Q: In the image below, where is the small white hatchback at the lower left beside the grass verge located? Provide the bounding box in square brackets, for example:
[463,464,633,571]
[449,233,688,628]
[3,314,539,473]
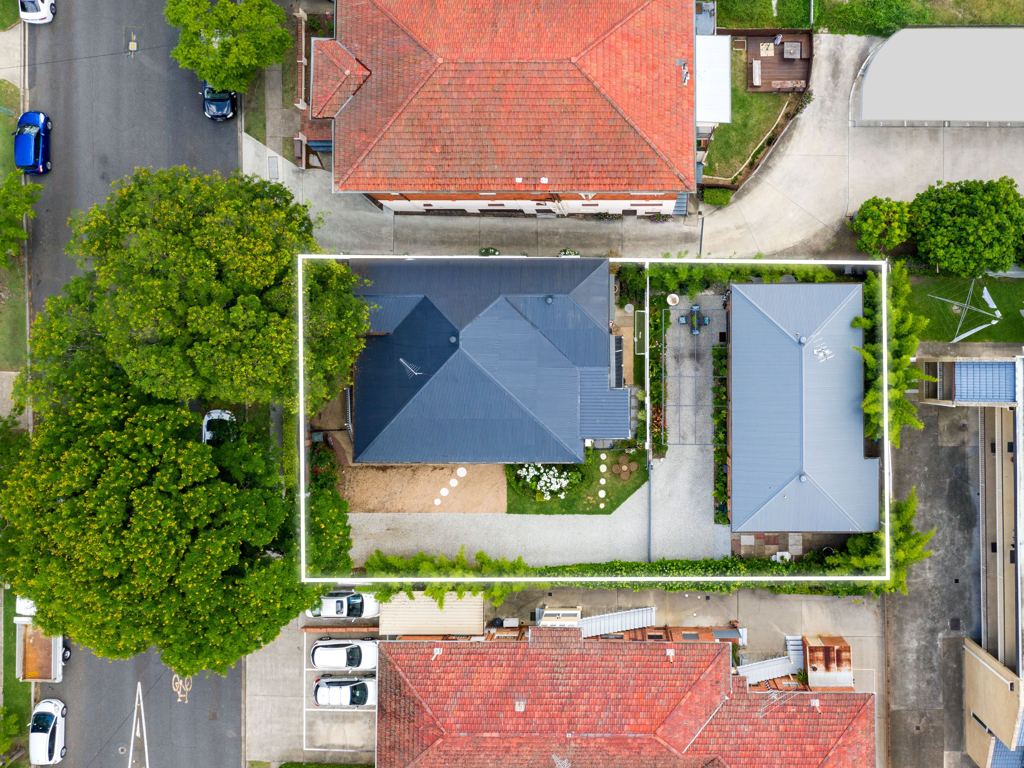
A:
[21,700,62,768]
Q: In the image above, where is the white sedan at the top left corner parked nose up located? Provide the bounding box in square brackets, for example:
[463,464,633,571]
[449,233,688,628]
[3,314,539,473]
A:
[14,0,52,23]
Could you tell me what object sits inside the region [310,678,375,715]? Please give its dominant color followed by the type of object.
white car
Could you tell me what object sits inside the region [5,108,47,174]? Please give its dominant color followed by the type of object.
blue car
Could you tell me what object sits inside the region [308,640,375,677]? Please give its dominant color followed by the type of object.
white car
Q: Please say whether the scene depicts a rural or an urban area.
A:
urban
